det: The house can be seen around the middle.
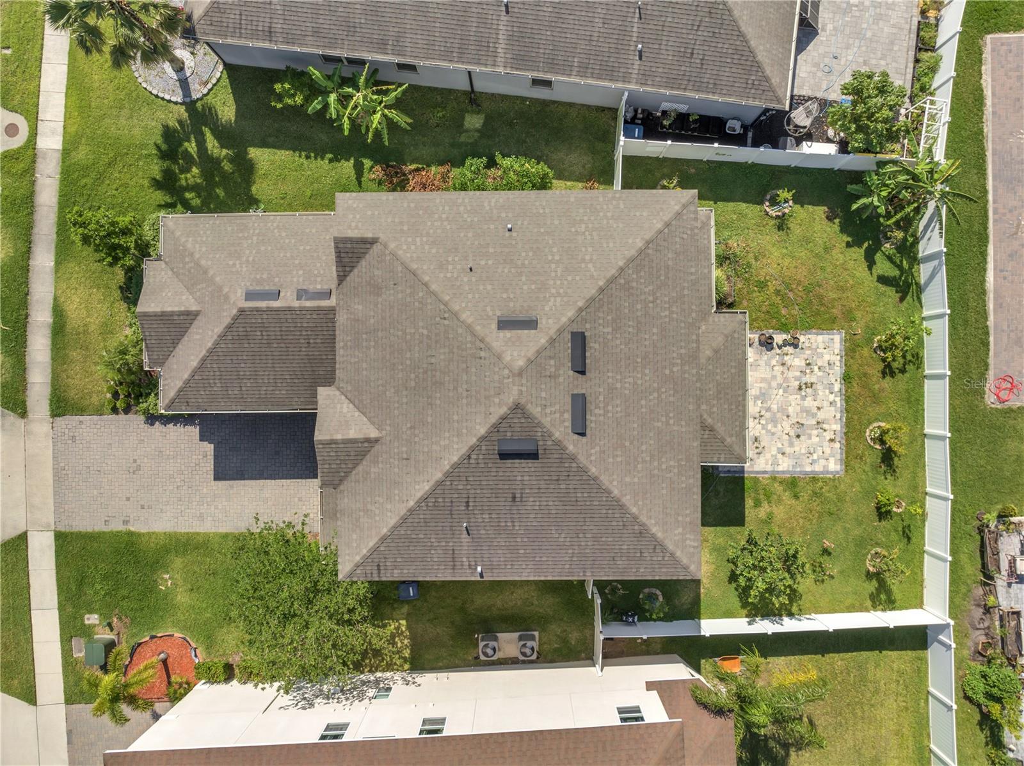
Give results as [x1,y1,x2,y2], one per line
[135,189,752,583]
